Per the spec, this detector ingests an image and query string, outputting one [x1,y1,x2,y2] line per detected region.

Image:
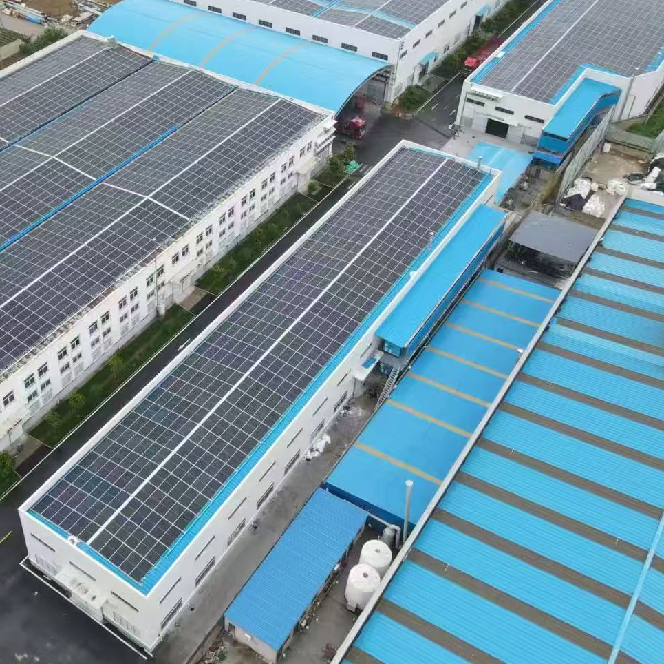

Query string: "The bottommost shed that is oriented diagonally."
[222,486,365,664]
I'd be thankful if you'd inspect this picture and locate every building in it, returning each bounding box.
[17,139,502,658]
[0,30,339,462]
[222,486,365,664]
[171,0,505,103]
[329,193,664,664]
[455,0,664,147]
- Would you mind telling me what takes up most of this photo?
buildings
